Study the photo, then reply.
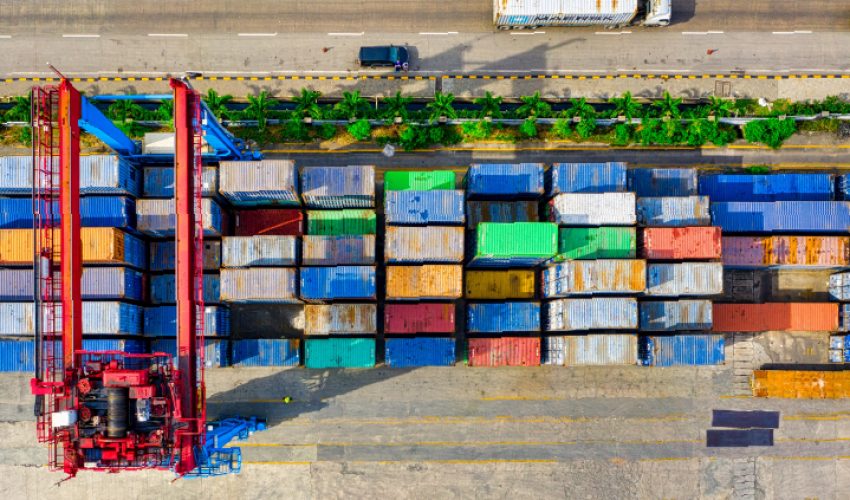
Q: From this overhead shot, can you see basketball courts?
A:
No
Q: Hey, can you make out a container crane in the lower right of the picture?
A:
No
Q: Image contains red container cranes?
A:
Yes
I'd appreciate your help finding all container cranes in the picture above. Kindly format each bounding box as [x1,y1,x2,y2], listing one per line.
[32,69,272,488]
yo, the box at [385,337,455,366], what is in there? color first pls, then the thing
blue shipping container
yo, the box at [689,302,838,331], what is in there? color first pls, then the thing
red shipping container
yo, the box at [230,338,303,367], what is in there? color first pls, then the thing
blue shipping container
